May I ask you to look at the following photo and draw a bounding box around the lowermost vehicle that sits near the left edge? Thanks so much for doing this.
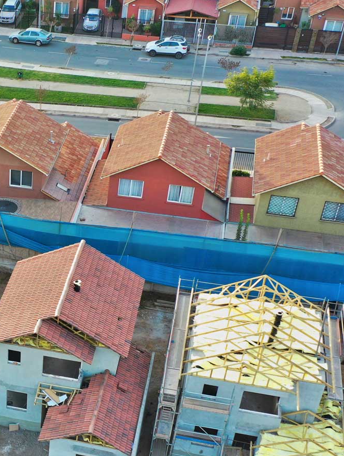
[6,25,51,45]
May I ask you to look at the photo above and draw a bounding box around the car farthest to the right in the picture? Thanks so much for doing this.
[144,34,191,58]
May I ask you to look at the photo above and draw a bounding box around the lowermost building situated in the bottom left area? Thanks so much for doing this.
[0,238,158,456]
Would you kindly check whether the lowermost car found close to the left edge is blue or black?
blue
